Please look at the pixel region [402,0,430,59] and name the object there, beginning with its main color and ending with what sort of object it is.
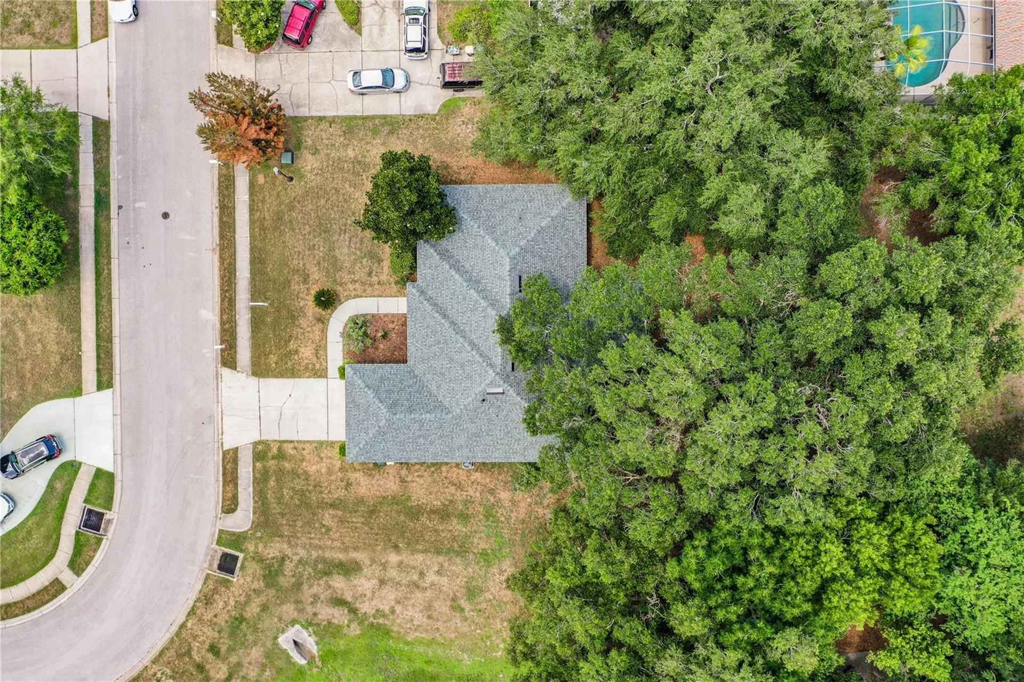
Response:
white car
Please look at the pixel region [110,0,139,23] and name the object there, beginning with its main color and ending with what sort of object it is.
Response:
white car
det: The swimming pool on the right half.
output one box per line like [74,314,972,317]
[888,0,978,87]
